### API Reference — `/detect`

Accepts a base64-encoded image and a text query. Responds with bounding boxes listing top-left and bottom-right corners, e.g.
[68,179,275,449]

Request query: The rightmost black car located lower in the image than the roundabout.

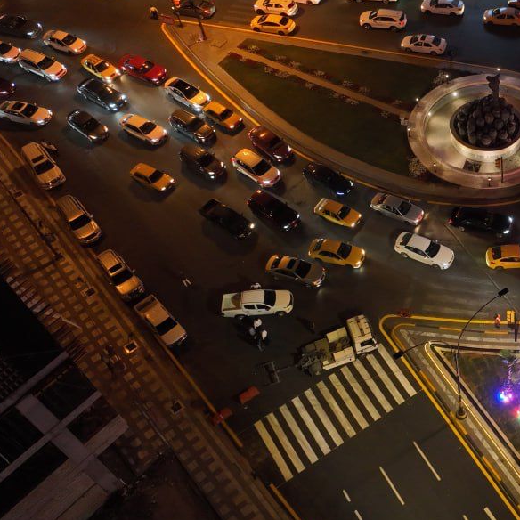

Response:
[452,206,510,236]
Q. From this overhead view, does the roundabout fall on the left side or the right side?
right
